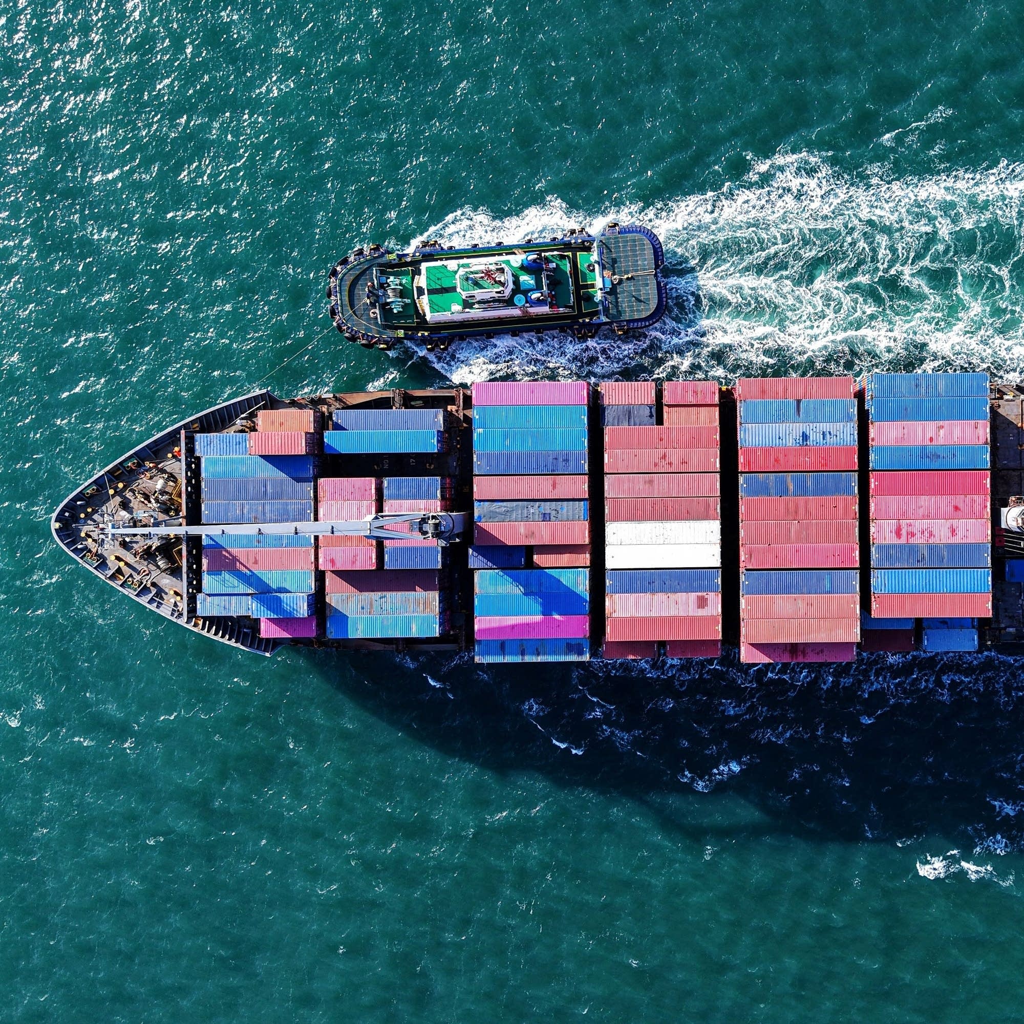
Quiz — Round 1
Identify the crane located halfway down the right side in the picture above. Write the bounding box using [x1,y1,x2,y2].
[990,491,1024,554]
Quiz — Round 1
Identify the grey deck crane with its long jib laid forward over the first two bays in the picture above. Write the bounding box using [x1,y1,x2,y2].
[108,508,475,547]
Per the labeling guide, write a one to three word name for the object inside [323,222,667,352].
boat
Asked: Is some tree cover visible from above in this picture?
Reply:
No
